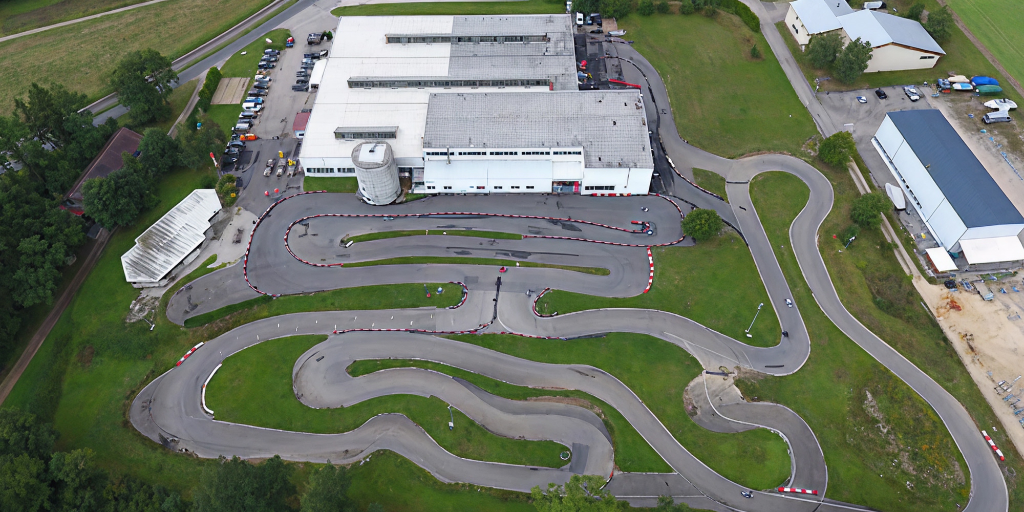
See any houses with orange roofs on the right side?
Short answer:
No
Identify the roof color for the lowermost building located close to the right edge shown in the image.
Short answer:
blue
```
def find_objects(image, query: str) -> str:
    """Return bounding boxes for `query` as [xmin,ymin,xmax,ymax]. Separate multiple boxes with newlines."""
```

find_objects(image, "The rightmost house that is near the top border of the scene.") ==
[838,9,946,67]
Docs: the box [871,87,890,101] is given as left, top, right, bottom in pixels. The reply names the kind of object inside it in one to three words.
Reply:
car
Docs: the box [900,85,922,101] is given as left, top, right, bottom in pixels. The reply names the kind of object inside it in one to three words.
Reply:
car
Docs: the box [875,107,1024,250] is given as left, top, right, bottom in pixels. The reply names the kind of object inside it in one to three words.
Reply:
building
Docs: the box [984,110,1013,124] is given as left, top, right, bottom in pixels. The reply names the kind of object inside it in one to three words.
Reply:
vehicle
